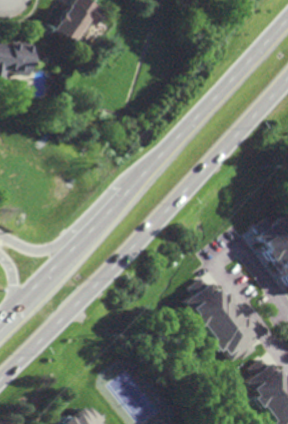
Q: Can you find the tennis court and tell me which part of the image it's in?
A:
bottom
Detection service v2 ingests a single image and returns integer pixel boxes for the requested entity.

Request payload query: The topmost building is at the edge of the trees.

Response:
[54,0,98,36]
